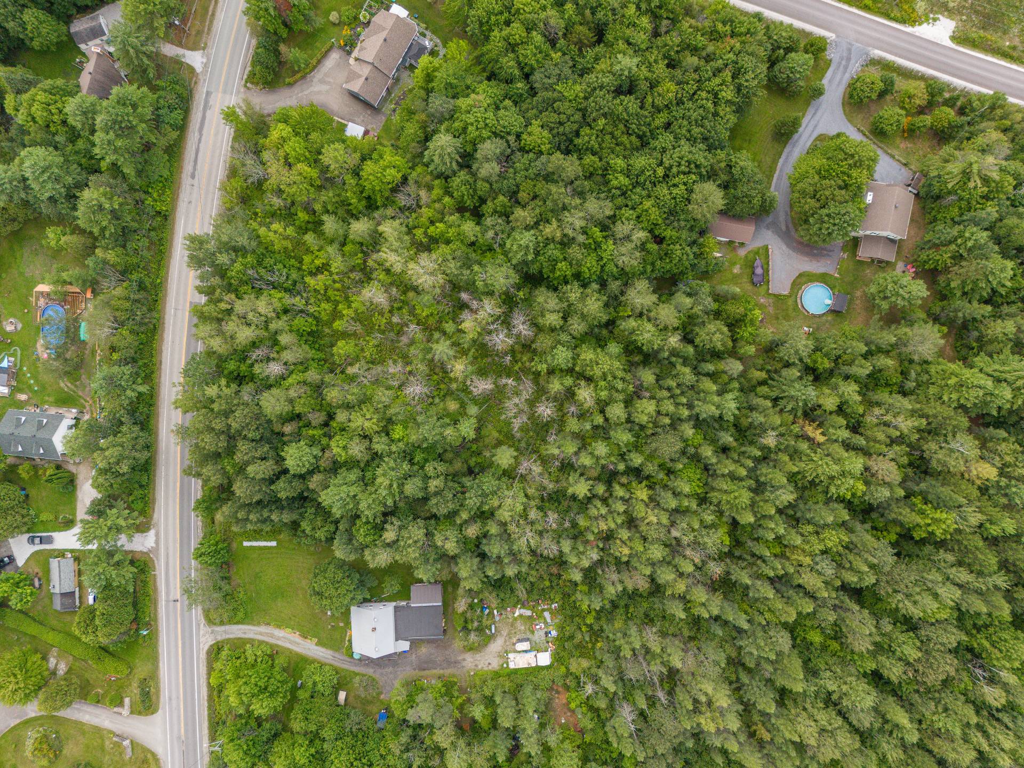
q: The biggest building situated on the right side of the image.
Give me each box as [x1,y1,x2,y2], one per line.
[849,182,914,265]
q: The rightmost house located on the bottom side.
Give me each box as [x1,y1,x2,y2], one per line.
[351,580,444,663]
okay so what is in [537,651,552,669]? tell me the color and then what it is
white vehicle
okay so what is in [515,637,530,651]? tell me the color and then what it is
white boat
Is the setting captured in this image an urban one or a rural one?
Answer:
rural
